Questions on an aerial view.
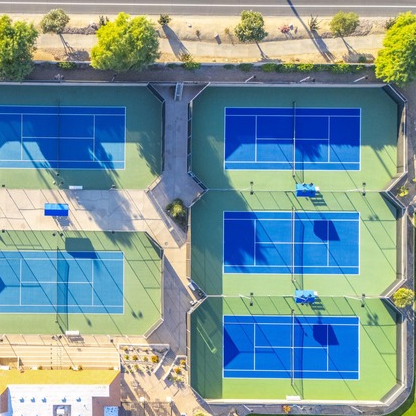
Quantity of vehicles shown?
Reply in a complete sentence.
The photo contains no vehicles.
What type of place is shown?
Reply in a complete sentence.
The picture captures a sports ground.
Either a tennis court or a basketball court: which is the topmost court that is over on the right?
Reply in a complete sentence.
In the photo, the topmost court that is over on the right shows up as a tennis court.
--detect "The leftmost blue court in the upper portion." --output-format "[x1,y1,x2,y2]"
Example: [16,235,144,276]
[0,85,162,189]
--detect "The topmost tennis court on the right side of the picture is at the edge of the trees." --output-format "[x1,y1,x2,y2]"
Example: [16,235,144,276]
[194,86,397,192]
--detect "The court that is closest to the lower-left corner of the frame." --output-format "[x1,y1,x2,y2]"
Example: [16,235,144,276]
[0,232,161,335]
